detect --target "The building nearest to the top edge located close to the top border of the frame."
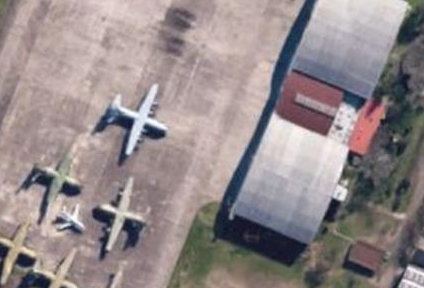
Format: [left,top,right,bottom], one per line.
[293,0,410,100]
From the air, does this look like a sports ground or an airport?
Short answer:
airport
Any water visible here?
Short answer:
No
